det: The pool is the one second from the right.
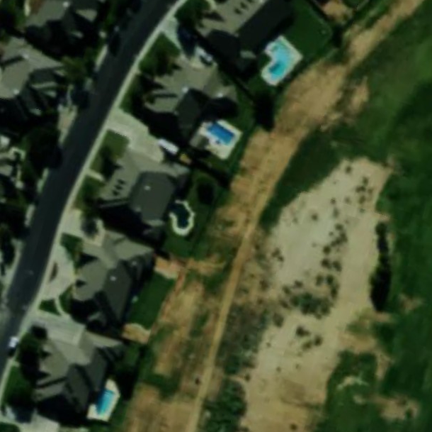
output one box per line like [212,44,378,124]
[203,120,243,153]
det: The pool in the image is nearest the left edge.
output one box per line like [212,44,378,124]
[86,379,119,422]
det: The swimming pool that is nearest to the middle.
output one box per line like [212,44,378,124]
[169,199,195,235]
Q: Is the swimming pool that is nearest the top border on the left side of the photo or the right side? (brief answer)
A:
right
